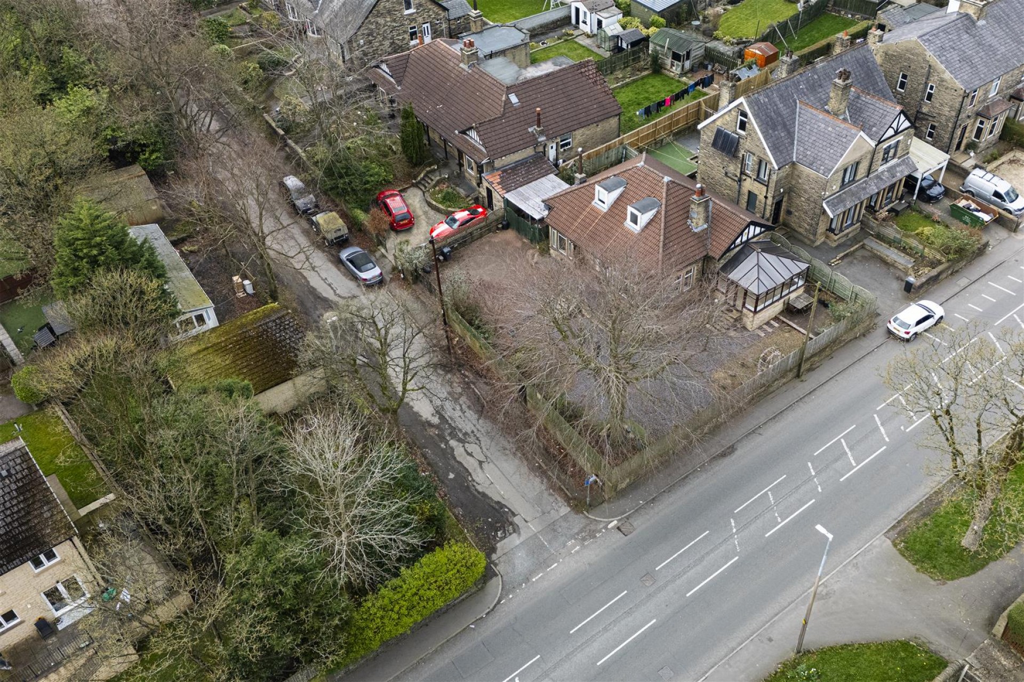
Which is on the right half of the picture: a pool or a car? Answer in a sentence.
It is a car that can be seen on the right half of the picture.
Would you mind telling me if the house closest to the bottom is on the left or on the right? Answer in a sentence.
You can find the house closest to the bottom on the left side of the picture.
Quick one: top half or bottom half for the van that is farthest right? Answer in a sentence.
The top half of the photo is where the van that is farthest right is.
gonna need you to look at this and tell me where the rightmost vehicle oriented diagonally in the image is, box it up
[965,164,1024,215]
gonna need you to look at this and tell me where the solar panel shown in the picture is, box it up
[712,127,735,159]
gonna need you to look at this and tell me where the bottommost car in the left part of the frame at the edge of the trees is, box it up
[340,245,387,287]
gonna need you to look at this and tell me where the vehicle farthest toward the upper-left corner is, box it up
[277,176,319,212]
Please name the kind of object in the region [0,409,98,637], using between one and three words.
house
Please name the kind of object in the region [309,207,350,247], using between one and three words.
vehicle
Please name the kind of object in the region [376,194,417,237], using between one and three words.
car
